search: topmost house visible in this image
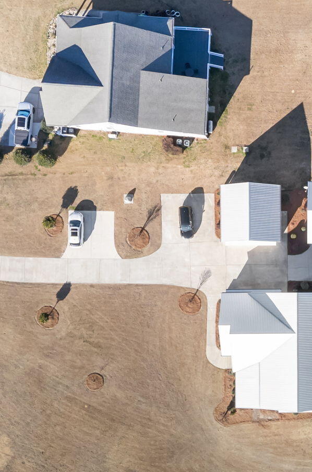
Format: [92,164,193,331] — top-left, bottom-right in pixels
[42,10,223,138]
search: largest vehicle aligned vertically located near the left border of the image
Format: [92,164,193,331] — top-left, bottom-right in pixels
[15,103,34,147]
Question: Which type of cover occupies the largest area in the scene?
grass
